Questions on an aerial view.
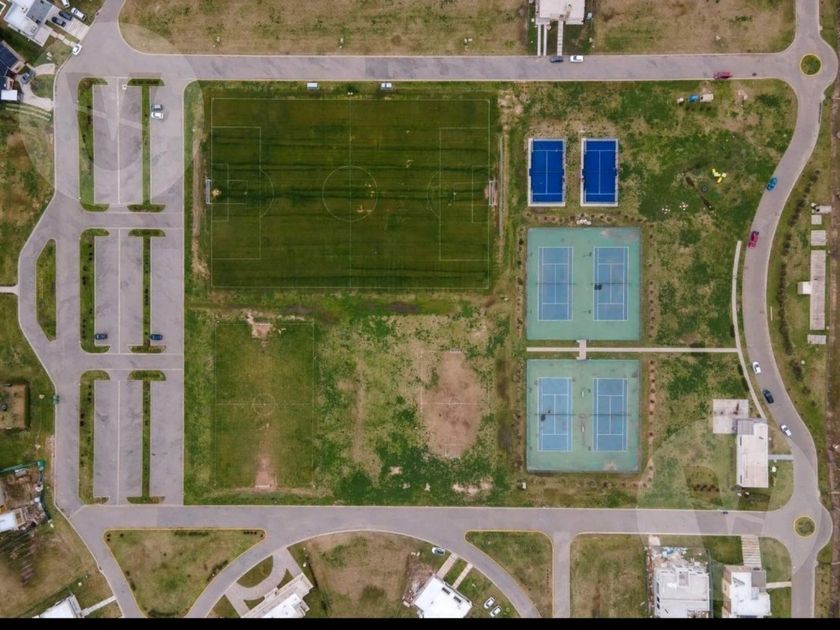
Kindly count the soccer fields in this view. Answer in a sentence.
My tally gives 3 soccer fields in this view.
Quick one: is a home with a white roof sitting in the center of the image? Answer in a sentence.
No, there's no home with a white roof to be seen in the center of the image.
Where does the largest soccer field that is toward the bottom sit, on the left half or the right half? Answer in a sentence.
The largest soccer field that is toward the bottom sits on the left side.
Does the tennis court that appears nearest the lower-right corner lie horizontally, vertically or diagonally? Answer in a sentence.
I'd say the tennis court that appears nearest the lower-right corner is aligned vertically in the picture.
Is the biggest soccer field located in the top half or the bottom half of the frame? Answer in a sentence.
It is in the top half that the biggest soccer field appears.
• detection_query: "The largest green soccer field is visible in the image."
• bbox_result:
[205,93,495,291]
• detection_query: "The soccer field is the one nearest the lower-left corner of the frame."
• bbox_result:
[210,318,318,491]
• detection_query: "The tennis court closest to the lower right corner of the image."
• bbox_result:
[593,378,632,452]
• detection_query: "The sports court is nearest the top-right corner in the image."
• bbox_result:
[581,138,619,207]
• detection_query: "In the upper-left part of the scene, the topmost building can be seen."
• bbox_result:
[4,0,57,49]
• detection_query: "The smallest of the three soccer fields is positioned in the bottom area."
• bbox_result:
[416,349,492,461]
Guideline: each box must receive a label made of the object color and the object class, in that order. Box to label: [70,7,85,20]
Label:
white vehicle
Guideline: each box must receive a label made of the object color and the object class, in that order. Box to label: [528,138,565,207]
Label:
blue sports court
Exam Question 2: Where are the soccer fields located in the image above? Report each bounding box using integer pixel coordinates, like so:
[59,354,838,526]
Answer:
[416,349,492,461]
[205,93,495,291]
[210,318,318,491]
